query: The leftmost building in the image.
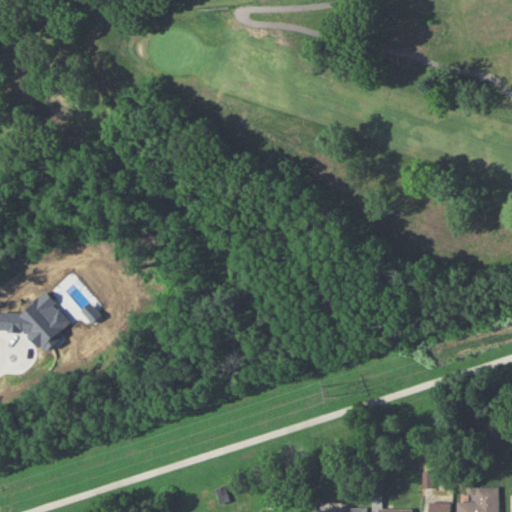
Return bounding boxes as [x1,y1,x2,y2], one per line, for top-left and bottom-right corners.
[0,293,71,352]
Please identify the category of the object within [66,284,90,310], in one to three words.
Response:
swimming pool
